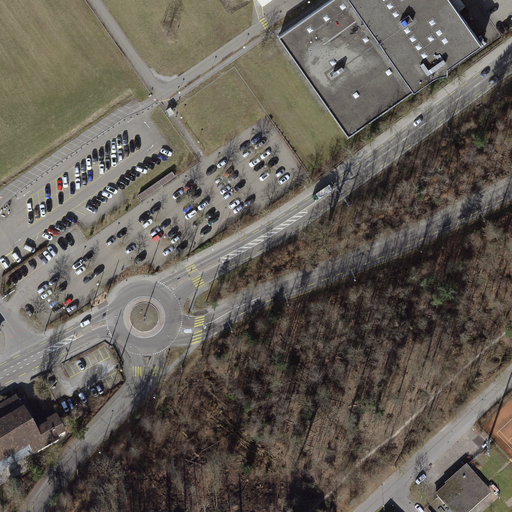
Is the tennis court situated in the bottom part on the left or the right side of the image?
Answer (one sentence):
The tennis court situated in the bottom part is on the right side of the image.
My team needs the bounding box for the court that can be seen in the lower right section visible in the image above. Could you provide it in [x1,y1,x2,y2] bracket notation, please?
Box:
[481,398,512,460]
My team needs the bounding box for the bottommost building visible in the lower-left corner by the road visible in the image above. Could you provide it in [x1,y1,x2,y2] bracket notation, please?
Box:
[0,404,67,471]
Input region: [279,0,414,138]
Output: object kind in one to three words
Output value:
building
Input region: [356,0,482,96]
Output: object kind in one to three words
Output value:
building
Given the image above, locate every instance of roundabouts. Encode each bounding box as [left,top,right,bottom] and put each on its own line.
[106,280,183,356]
